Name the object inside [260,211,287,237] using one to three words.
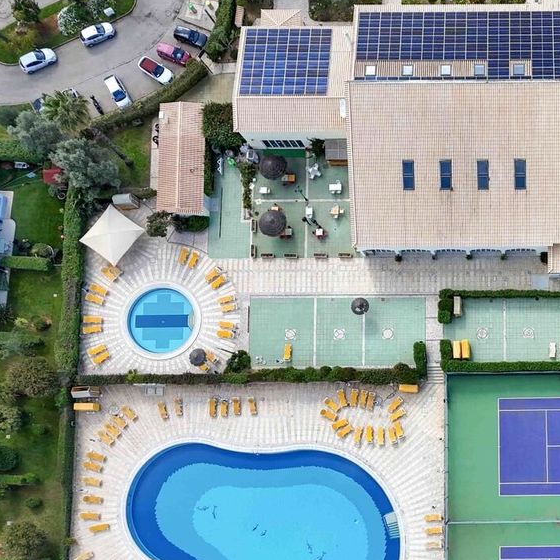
umbrella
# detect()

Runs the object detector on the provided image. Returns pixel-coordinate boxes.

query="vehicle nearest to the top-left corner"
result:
[19,49,58,73]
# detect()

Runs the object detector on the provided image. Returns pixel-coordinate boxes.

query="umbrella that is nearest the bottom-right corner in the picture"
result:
[351,298,370,316]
